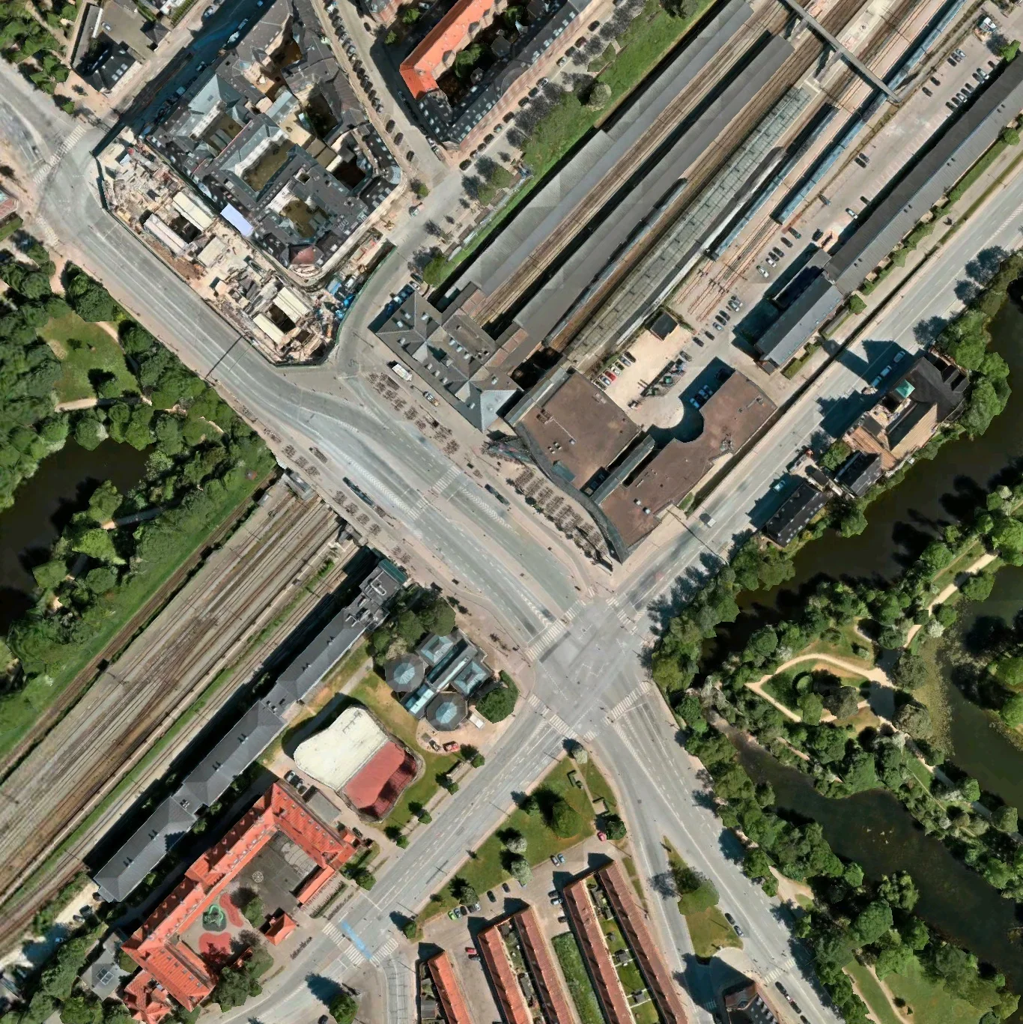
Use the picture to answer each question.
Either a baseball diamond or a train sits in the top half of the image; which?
train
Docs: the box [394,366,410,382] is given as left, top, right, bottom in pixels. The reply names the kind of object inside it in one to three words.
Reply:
vehicle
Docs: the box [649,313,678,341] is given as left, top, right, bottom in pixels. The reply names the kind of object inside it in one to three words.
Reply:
shed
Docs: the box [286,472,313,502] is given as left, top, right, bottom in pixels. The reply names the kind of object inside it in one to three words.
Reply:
house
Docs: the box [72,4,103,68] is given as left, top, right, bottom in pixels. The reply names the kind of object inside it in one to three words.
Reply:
building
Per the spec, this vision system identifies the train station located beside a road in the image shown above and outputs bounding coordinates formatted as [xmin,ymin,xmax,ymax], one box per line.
[376,284,530,432]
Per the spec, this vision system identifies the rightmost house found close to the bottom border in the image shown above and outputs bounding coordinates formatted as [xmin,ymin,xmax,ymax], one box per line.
[717,970,776,1024]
